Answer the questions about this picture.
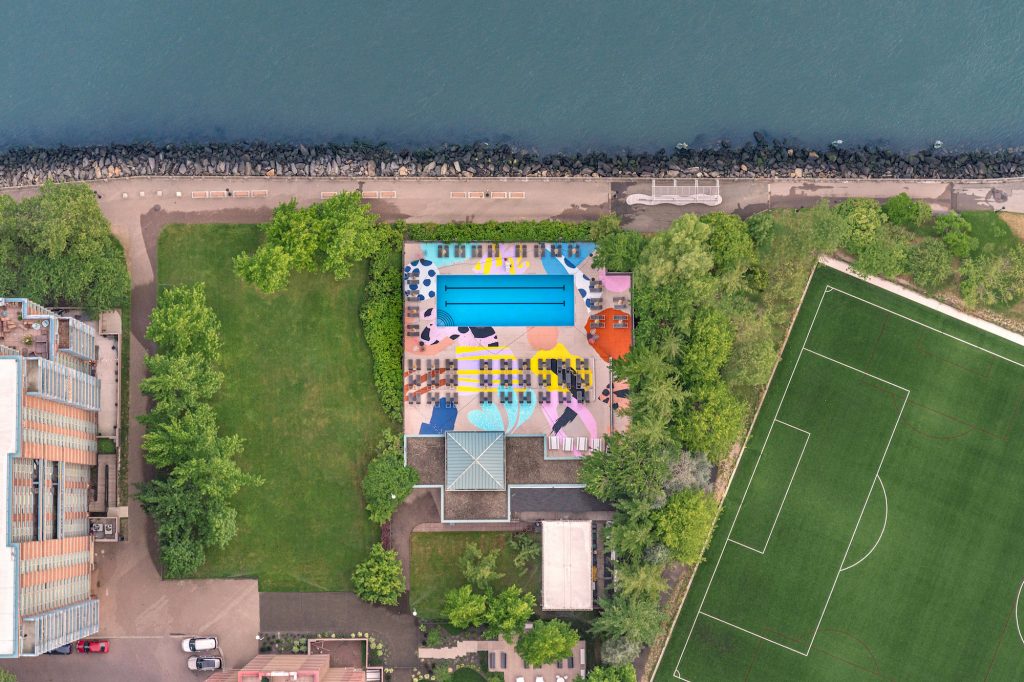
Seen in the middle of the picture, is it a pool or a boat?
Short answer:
pool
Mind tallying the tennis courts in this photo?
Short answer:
0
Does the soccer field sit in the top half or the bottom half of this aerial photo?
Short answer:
bottom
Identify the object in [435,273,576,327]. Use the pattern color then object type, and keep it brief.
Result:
blue swimming pool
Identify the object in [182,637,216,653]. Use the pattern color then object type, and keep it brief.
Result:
white car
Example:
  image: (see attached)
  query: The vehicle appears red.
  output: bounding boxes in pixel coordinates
[76,640,109,654]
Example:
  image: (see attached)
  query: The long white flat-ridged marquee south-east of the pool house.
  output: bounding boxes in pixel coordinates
[542,521,593,610]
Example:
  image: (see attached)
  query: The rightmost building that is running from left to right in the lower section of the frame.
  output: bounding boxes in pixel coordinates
[405,431,605,522]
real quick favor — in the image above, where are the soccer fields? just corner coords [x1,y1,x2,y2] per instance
[650,262,1024,682]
